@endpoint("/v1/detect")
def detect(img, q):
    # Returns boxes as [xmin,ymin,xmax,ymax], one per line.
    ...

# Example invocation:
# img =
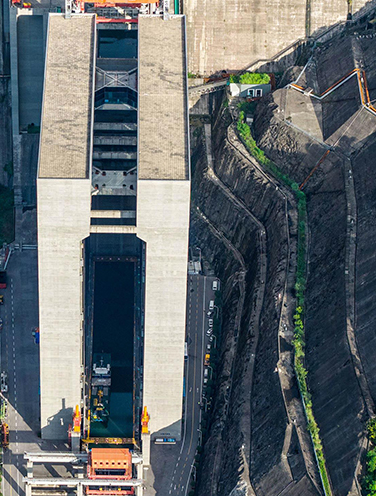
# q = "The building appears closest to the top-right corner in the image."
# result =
[230,70,270,98]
